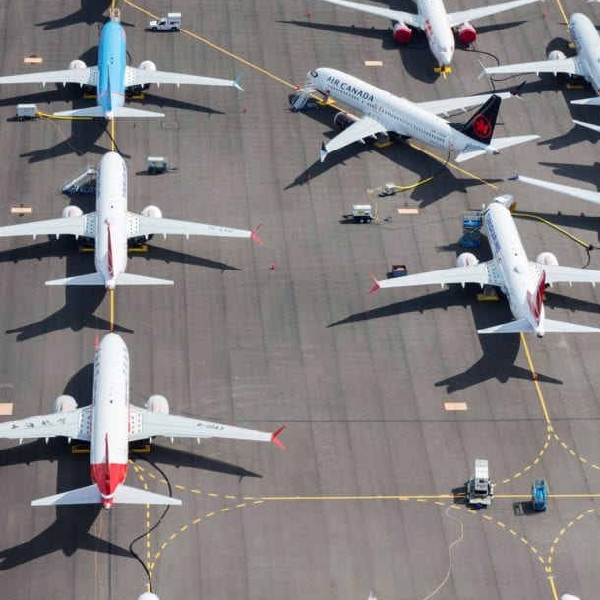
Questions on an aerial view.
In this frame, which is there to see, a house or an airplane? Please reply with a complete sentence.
The image shows an airplane.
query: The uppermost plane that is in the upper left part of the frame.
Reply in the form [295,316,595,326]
[0,19,243,121]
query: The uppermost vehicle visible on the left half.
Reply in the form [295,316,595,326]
[149,12,183,32]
